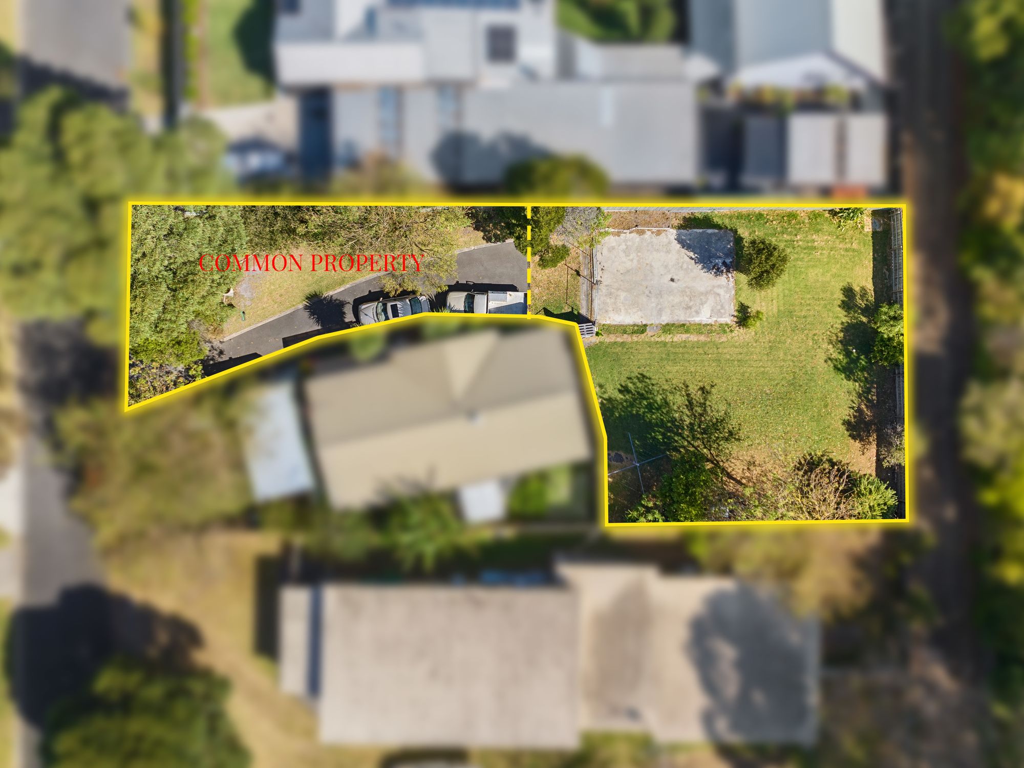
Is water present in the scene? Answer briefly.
No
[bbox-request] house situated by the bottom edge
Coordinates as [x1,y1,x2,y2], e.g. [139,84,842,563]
[281,559,819,751]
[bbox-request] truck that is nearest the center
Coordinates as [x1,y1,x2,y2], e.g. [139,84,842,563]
[447,287,527,322]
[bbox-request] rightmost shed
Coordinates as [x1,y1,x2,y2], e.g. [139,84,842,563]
[830,114,889,192]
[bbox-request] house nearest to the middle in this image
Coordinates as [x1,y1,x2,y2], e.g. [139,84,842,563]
[305,328,594,511]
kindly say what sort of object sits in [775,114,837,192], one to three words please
shed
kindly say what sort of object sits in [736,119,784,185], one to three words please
shed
